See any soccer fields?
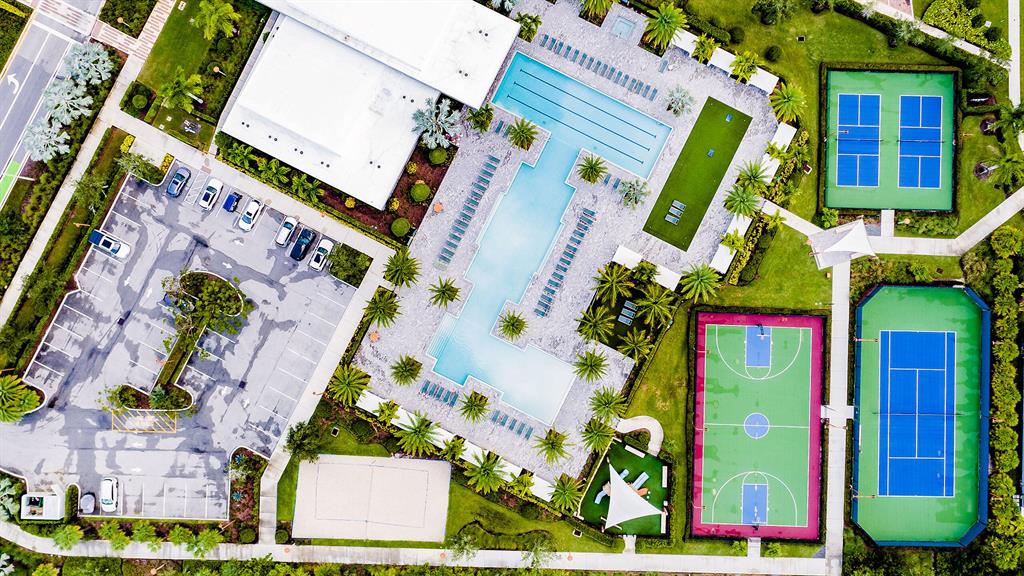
No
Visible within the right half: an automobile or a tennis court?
tennis court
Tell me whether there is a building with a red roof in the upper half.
No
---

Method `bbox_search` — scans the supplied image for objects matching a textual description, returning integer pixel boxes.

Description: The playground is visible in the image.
[580,440,668,537]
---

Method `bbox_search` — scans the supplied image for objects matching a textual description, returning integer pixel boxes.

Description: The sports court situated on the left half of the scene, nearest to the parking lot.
[292,455,451,542]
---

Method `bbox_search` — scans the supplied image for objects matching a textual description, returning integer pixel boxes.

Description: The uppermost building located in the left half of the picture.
[258,0,521,108]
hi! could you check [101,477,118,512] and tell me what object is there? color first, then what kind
white car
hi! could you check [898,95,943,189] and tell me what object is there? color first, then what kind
blue sports court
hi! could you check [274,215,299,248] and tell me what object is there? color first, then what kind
white vehicle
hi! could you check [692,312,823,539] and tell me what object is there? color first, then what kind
green basketball court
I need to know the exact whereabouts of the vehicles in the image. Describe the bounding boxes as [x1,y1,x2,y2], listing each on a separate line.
[239,198,263,232]
[88,230,132,258]
[290,228,316,262]
[199,177,224,211]
[101,477,118,512]
[223,194,242,212]
[80,493,98,513]
[274,215,299,248]
[167,166,191,200]
[309,239,334,272]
